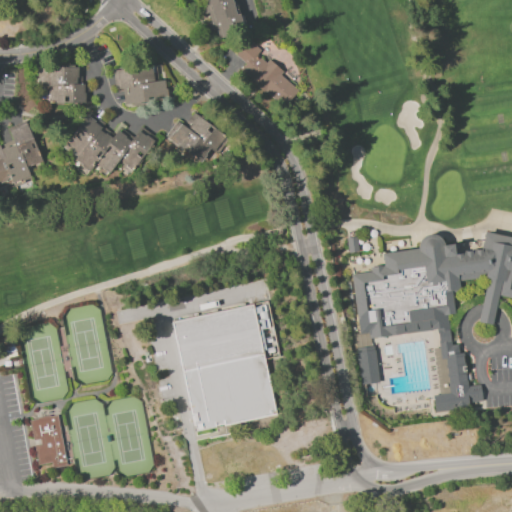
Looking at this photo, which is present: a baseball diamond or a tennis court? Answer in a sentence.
There is a tennis court in the scene.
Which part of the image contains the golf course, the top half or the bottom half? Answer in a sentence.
The top half of the photo is where the golf course is.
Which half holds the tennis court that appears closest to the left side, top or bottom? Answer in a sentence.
Seen from above, the tennis court that appears closest to the left side lies in the bottom half of the view.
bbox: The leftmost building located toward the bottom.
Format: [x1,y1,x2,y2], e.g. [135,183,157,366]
[31,415,69,468]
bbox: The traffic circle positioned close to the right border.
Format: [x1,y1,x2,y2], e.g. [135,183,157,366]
[460,304,512,406]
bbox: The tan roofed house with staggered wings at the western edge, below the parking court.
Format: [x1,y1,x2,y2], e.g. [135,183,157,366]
[0,121,40,186]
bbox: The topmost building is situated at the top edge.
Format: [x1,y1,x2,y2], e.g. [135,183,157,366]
[208,0,244,41]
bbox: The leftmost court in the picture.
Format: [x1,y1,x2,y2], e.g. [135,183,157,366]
[25,324,68,402]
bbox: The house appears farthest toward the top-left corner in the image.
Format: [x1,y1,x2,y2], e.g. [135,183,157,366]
[35,65,96,108]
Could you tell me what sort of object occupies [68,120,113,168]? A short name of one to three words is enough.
house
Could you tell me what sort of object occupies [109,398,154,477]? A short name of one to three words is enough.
tennis court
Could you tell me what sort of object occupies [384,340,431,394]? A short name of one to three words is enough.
swimming pool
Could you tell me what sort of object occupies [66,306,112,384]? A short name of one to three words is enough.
tennis court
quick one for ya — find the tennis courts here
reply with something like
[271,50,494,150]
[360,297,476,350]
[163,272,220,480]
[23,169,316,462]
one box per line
[25,324,68,402]
[66,306,112,384]
[70,400,115,478]
[109,398,154,477]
